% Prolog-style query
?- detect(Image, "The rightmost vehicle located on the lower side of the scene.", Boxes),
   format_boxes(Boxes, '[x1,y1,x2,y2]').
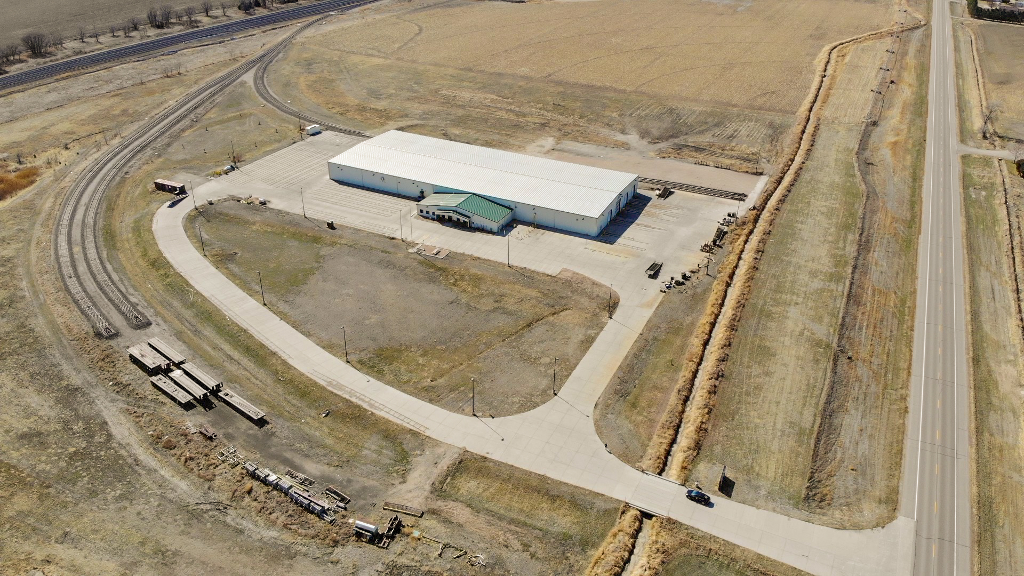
[686,488,712,503]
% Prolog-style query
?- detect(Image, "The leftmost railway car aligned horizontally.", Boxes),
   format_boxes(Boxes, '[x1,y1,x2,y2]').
[151,175,185,194]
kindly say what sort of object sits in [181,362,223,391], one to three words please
rail car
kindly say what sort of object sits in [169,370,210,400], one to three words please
rail car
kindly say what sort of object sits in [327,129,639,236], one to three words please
building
